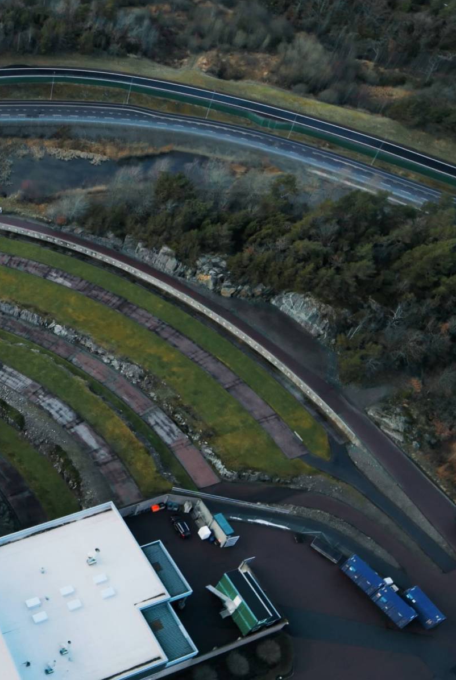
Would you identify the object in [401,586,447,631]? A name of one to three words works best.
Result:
shipping container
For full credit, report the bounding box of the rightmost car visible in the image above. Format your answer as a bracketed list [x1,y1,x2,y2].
[169,514,195,537]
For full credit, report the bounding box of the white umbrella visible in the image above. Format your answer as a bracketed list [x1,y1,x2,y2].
[197,528,210,541]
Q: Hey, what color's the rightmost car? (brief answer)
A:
black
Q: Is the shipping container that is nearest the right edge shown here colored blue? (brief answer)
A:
Yes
